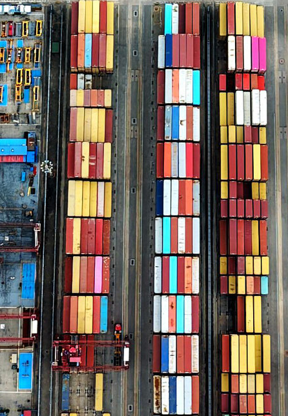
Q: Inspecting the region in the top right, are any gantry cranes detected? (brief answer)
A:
No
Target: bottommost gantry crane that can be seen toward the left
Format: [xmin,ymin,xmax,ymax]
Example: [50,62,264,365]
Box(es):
[52,334,129,373]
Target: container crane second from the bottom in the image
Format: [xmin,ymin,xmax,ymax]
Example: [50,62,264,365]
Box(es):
[0,308,42,342]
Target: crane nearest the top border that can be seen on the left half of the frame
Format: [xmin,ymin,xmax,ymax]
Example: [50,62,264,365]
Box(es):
[0,223,44,255]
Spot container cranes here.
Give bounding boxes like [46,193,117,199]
[52,334,129,373]
[0,308,42,342]
[0,223,44,255]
